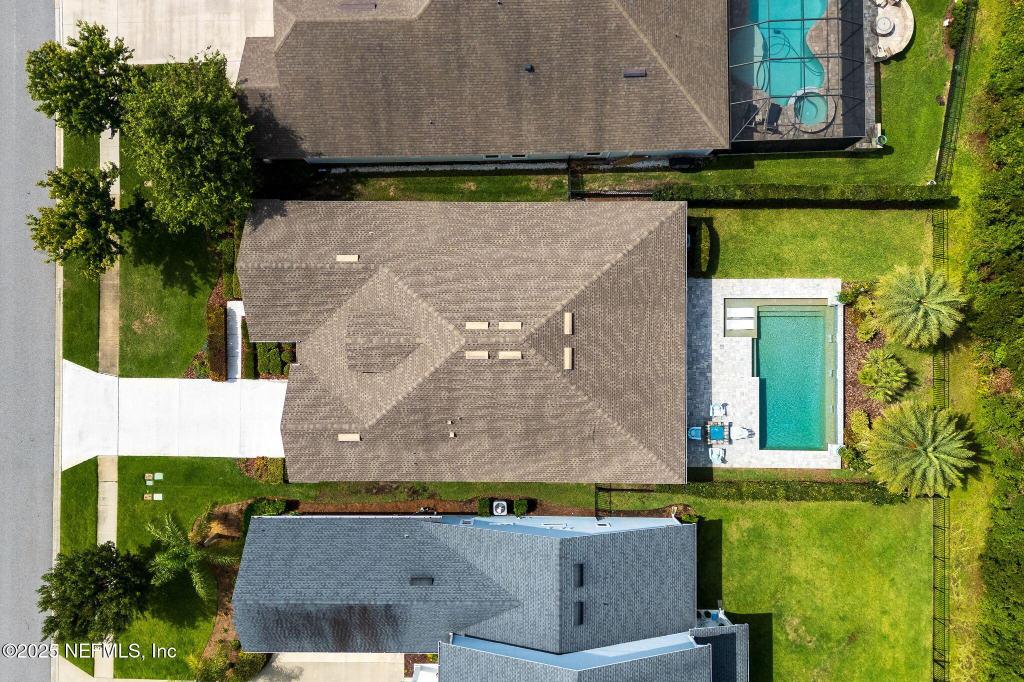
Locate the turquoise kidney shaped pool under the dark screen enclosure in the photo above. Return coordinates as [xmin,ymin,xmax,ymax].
[730,0,832,108]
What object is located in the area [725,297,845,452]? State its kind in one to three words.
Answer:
swimming pool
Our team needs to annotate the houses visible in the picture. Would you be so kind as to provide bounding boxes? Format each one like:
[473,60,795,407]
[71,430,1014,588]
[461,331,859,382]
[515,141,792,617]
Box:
[237,199,689,486]
[235,508,751,682]
[236,0,730,166]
